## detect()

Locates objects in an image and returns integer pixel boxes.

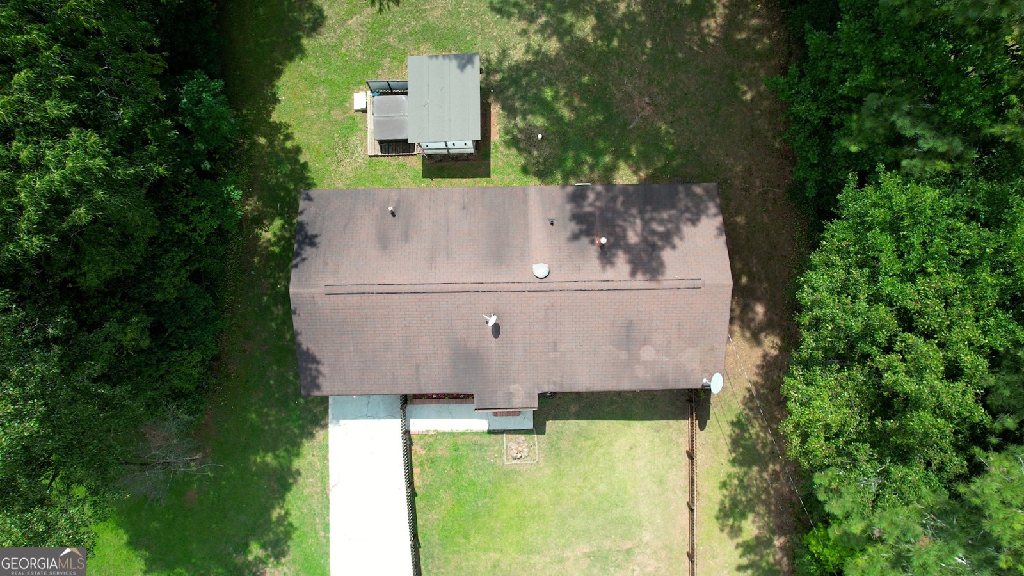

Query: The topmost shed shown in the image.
[407,53,481,155]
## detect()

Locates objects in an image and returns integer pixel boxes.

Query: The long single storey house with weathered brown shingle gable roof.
[289,183,733,415]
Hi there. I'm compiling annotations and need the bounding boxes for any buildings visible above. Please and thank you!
[289,183,733,415]
[407,53,481,155]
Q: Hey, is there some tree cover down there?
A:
Yes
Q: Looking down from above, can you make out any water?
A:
No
